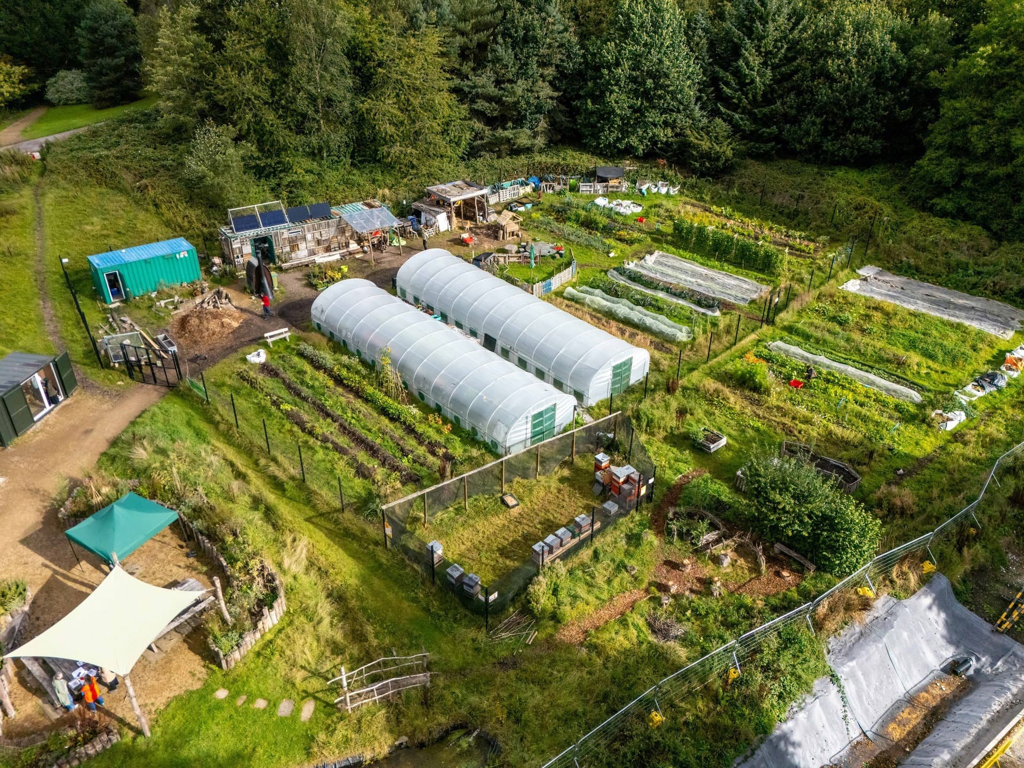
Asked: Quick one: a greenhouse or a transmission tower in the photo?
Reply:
greenhouse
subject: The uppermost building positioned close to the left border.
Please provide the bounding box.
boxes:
[0,347,81,447]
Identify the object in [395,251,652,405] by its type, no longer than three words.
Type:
greenhouse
